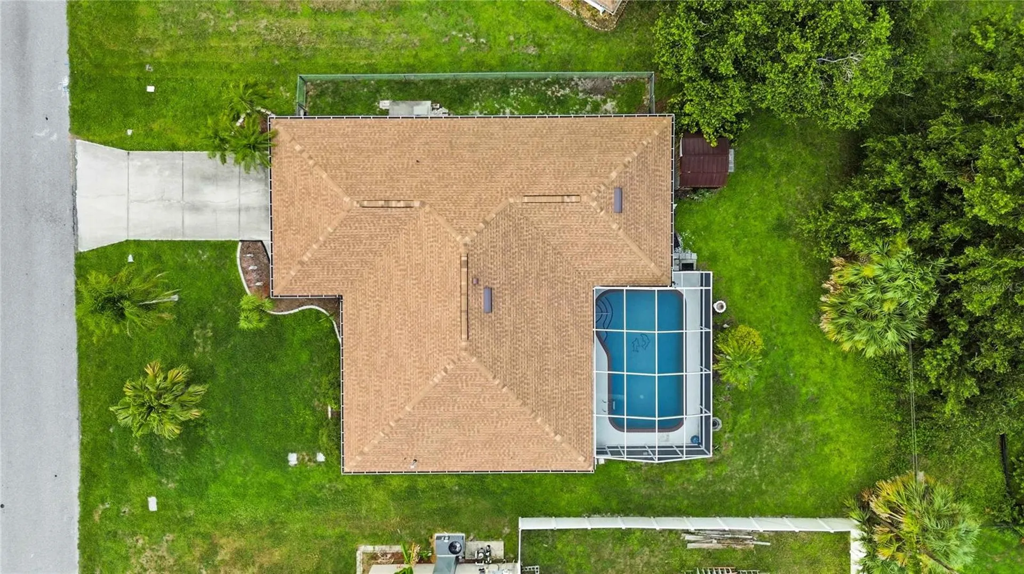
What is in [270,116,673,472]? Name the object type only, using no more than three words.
house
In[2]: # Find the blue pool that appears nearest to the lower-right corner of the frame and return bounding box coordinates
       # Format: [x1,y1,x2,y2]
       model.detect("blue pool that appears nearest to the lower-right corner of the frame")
[595,289,684,433]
